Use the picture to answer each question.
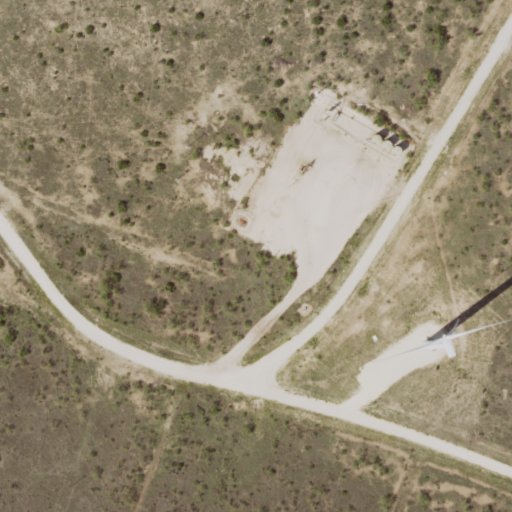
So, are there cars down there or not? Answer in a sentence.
No, no car is visible in the view.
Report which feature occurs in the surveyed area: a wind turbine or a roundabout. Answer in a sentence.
Of the two, only a wind turbine appears.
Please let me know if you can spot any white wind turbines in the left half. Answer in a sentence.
No, looking in the left half, there is no white wind turbine.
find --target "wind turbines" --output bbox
[367,317,508,364]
